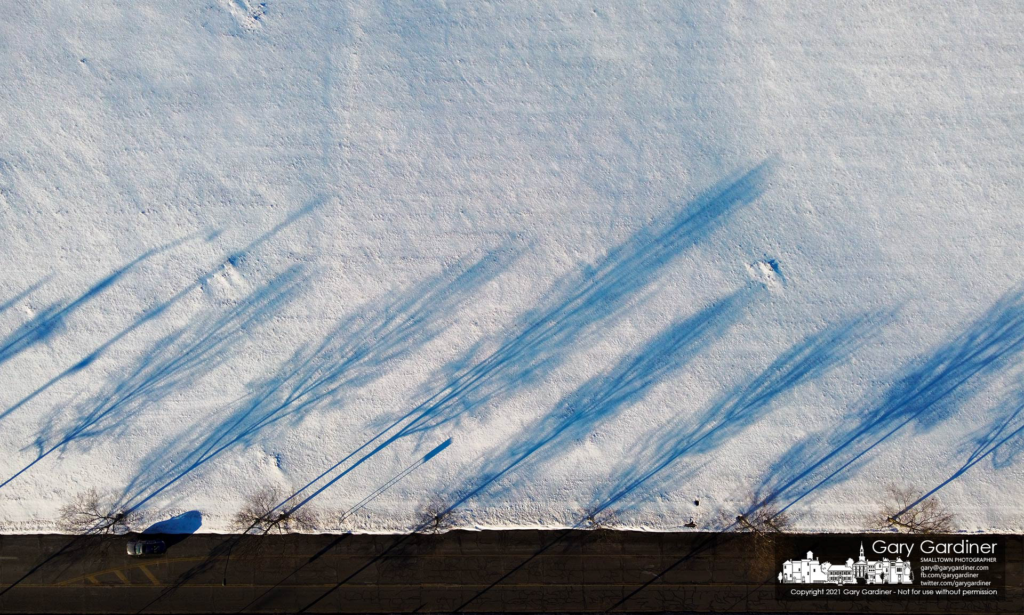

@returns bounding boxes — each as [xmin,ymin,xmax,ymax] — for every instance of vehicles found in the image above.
[127,539,168,560]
